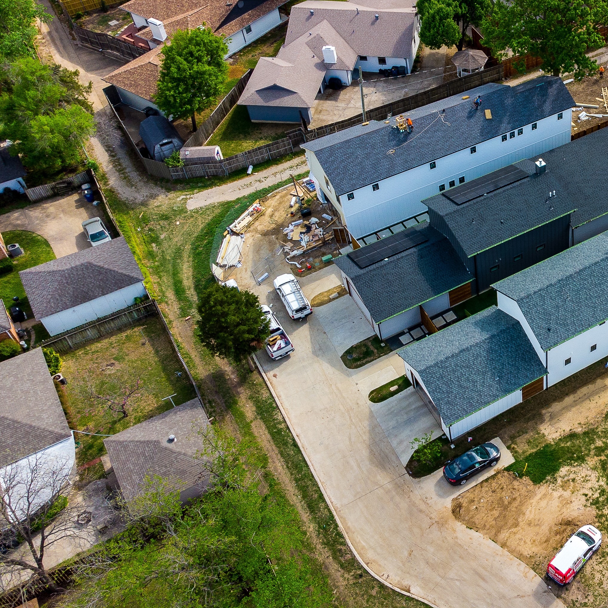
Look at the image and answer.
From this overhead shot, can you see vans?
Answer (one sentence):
Yes, a van appears in the view.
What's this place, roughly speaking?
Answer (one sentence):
The area seen from above is a residential area.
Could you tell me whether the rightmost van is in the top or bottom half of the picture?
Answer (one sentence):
The bottom half of the photo is where the rightmost van is.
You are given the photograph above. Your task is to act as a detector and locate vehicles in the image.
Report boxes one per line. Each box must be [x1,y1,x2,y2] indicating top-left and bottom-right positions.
[546,525,602,587]
[257,303,294,360]
[82,217,112,247]
[440,440,503,486]
[268,269,313,321]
